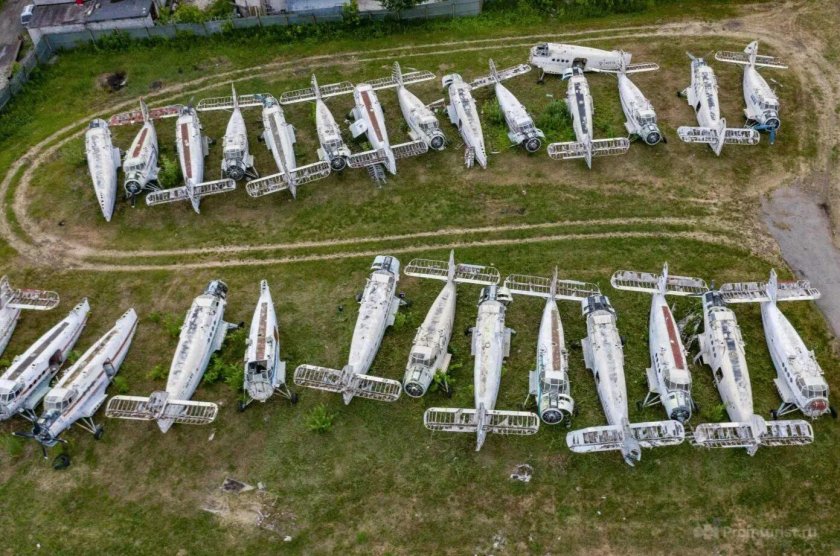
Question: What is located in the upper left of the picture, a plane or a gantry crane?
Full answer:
There is a plane in the upper left of the picture.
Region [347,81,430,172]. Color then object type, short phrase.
white airplane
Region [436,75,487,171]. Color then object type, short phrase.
white airplane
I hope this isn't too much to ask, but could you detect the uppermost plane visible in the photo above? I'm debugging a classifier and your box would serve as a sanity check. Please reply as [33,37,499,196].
[532,42,631,89]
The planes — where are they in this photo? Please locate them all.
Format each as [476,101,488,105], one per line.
[84,119,129,224]
[247,97,332,197]
[680,286,813,456]
[280,75,358,174]
[148,98,237,207]
[714,42,788,140]
[532,42,631,89]
[423,284,540,445]
[609,261,707,416]
[369,62,450,156]
[546,67,631,164]
[238,280,296,408]
[585,49,664,144]
[436,75,487,171]
[112,286,244,446]
[719,267,831,416]
[568,294,687,458]
[294,255,409,408]
[107,95,186,203]
[673,53,760,150]
[461,57,546,157]
[347,81,430,172]
[19,304,142,444]
[501,264,601,423]
[0,291,95,411]
[398,248,500,395]
[0,277,62,353]
[197,84,275,182]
